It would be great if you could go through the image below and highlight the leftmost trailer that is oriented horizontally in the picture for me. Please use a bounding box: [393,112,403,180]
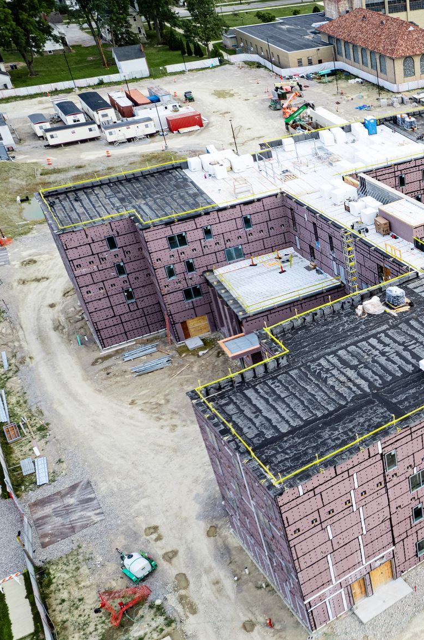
[42,119,99,146]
